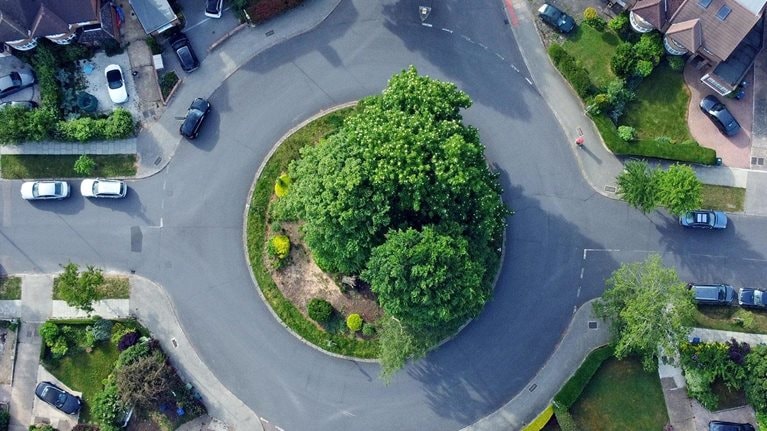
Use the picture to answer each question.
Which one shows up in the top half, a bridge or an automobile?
automobile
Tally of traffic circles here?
1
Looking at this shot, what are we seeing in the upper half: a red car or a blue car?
blue car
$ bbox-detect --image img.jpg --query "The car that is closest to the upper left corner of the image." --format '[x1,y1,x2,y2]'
[0,70,35,99]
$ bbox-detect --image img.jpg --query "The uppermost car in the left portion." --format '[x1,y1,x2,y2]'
[204,0,227,20]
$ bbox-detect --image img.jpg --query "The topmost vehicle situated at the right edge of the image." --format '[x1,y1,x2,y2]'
[699,95,742,139]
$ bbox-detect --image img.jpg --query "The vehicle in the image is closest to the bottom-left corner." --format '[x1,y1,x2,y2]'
[32,380,82,414]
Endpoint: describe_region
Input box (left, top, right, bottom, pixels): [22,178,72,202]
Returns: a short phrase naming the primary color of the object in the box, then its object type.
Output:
white car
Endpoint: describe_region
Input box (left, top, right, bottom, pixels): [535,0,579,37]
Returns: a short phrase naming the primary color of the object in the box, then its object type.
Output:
blue car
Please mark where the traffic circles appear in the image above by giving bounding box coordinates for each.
[243,99,506,361]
